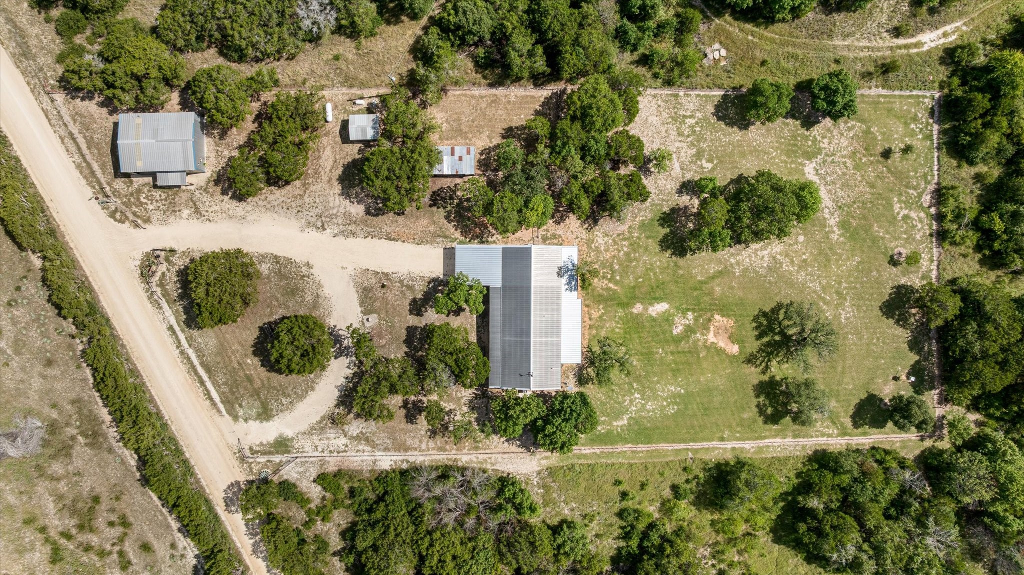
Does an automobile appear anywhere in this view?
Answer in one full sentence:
No, the scene contains no automobile.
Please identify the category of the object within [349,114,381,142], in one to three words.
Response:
shed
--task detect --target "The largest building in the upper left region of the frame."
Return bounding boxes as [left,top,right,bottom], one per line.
[117,112,205,187]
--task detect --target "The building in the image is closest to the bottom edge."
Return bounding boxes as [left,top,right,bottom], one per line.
[455,242,582,393]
